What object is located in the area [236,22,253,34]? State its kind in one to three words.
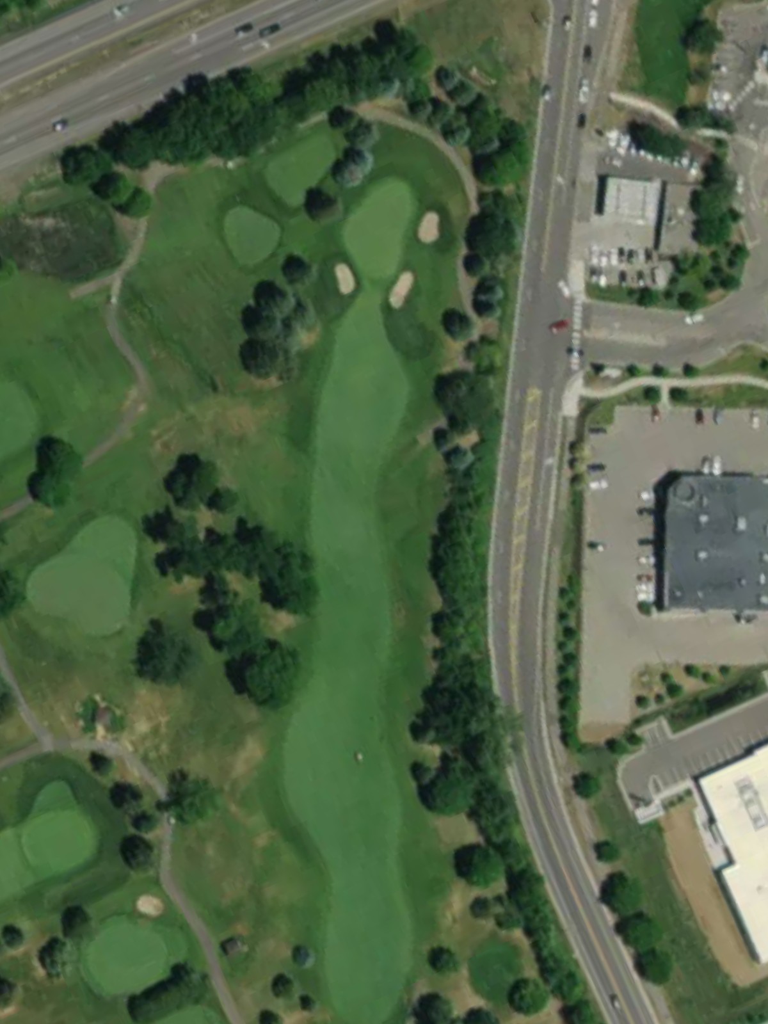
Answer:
vehicle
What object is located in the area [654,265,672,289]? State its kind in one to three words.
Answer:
shed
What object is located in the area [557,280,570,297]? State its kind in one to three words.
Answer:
vehicle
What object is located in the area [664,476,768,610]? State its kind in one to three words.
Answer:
building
